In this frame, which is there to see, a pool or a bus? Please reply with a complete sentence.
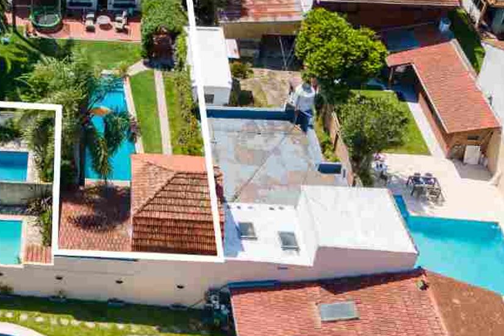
There is a pool in the scene.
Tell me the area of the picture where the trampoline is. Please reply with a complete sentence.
The trampoline sits in the top left section of the image.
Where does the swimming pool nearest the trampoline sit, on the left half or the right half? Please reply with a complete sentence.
The swimming pool nearest the trampoline appears in the left half of the scene.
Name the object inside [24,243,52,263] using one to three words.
shed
